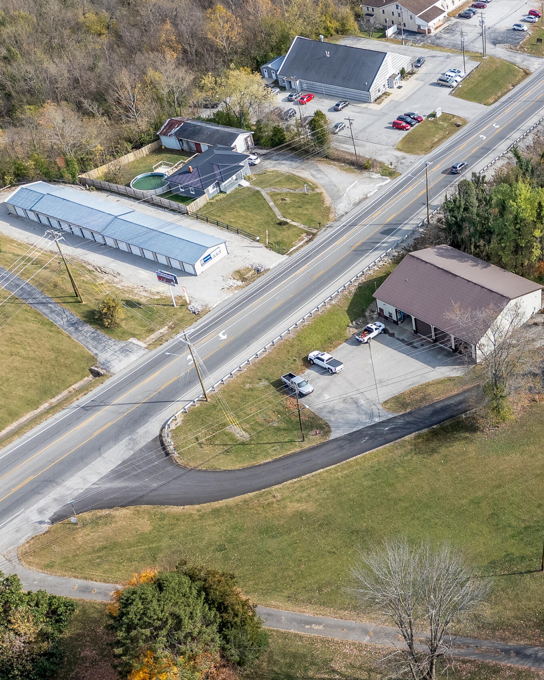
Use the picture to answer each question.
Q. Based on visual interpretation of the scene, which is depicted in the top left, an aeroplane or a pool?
pool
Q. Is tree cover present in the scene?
Yes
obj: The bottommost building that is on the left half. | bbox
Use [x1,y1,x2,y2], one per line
[7,179,228,273]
